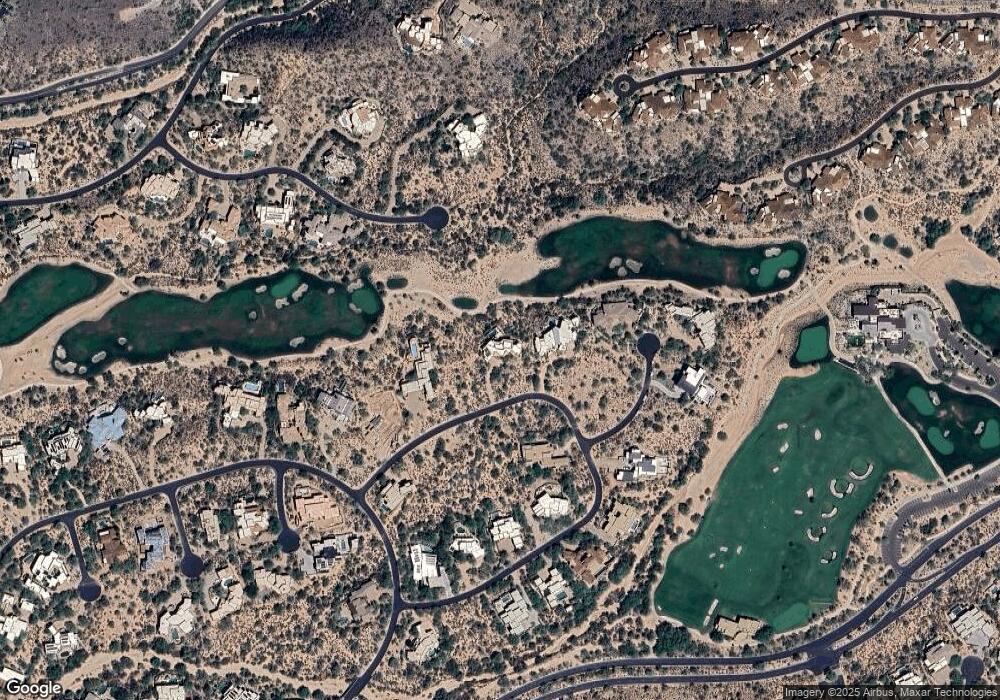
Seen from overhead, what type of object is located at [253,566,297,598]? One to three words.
house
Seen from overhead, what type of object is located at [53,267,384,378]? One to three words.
golf course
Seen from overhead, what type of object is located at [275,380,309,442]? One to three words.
house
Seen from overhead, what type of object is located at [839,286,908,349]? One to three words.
building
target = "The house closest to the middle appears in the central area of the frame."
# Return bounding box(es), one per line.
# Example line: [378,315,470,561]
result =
[479,326,524,363]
